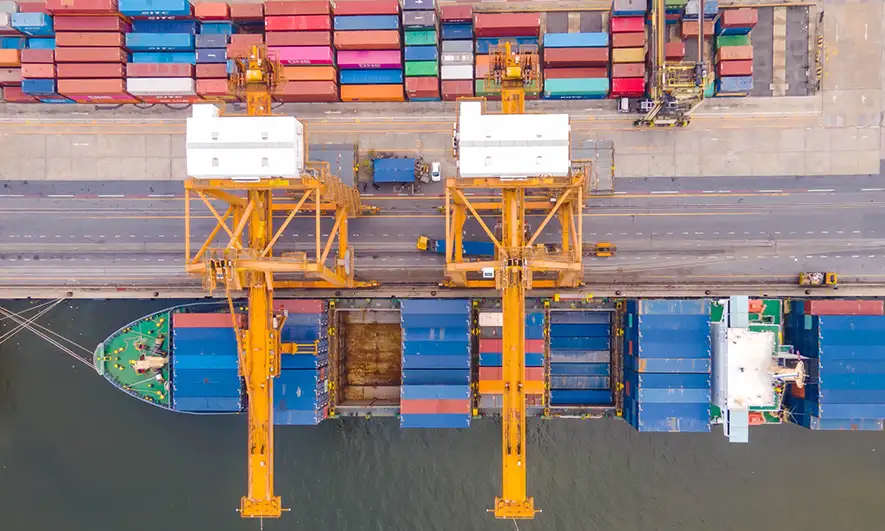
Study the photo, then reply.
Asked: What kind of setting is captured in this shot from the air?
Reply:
port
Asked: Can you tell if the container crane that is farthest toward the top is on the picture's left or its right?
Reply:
right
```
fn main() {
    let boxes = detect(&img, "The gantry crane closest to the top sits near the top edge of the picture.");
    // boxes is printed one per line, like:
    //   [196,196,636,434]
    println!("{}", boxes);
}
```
[636,0,710,126]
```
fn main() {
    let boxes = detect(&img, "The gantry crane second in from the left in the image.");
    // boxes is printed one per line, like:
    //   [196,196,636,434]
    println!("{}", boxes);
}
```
[436,35,596,531]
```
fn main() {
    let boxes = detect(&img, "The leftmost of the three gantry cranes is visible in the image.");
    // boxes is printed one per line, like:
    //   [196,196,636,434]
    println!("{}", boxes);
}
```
[181,38,380,530]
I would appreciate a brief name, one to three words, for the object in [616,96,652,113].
vehicle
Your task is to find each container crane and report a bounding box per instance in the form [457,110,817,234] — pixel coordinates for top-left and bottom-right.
[436,35,596,531]
[636,0,710,126]
[181,38,380,530]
